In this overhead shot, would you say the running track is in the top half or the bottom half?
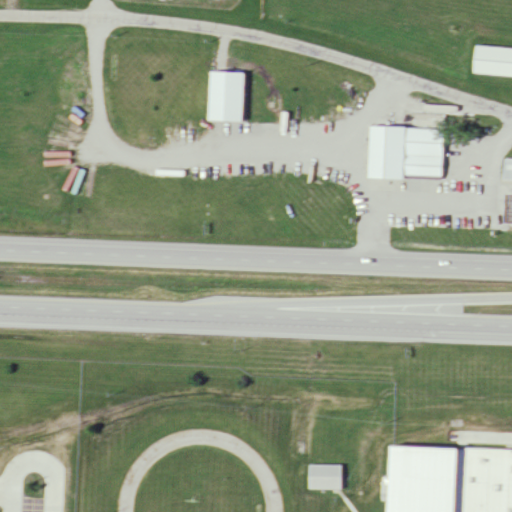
bottom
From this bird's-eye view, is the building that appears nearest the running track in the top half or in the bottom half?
bottom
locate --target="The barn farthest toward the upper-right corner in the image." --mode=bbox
[472,44,512,77]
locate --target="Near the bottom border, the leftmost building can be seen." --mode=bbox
[308,464,343,492]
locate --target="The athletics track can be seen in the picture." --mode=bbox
[118,430,283,512]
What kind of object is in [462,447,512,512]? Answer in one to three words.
building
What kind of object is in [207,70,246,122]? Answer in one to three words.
shed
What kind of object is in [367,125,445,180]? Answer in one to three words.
building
